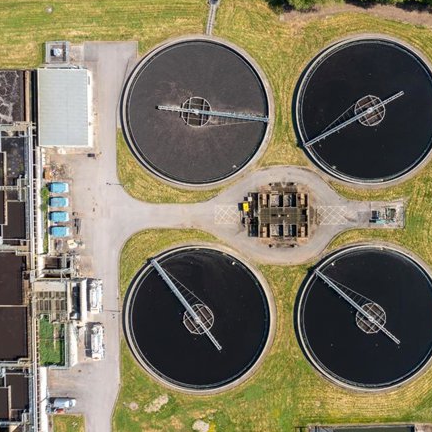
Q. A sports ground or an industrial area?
industrial area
